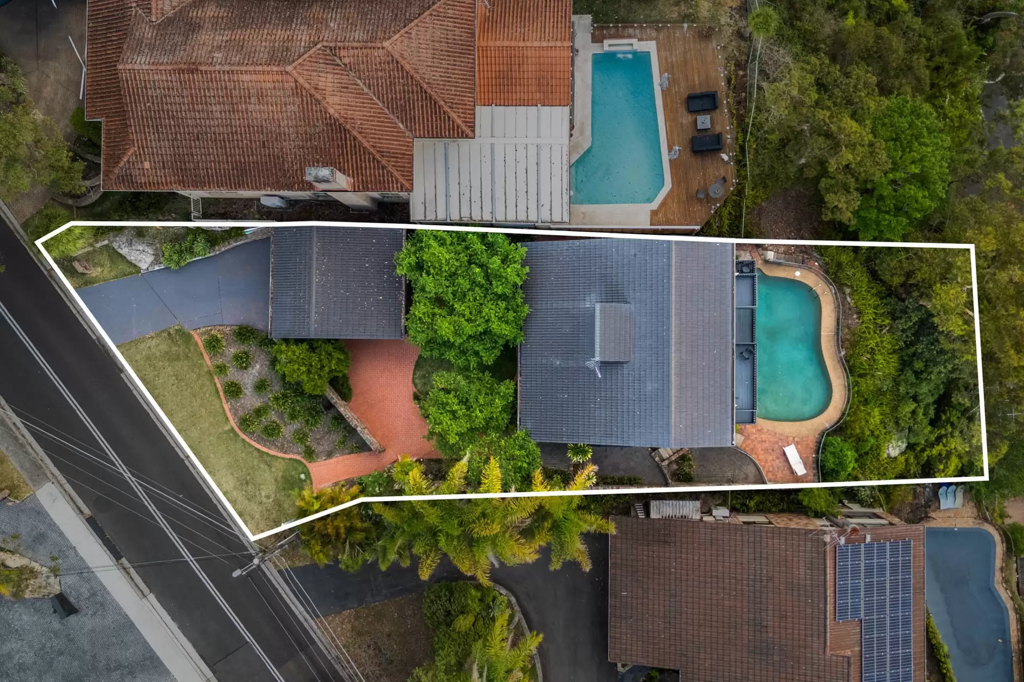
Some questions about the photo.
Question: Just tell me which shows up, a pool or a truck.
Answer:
pool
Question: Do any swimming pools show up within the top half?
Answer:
Yes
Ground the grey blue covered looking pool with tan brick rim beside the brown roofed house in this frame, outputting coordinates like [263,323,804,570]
[920,521,1023,682]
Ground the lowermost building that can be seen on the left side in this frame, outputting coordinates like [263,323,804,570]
[267,223,408,339]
